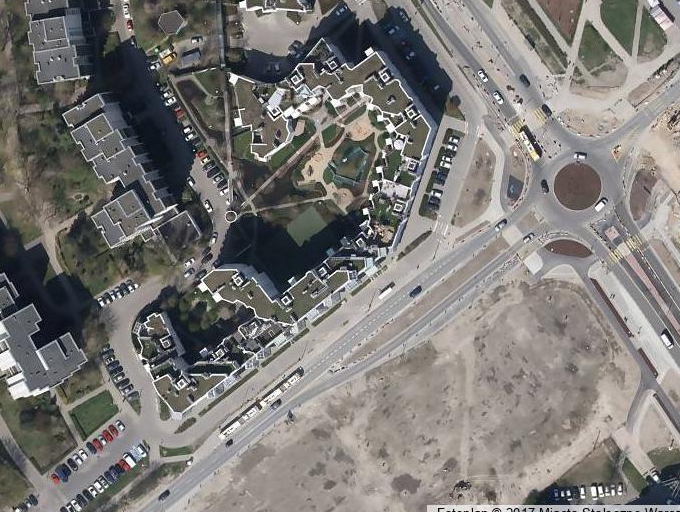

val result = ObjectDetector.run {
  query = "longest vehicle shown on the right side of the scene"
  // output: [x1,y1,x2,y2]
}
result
[516,125,543,161]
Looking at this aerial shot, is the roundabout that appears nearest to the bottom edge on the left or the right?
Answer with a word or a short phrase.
right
